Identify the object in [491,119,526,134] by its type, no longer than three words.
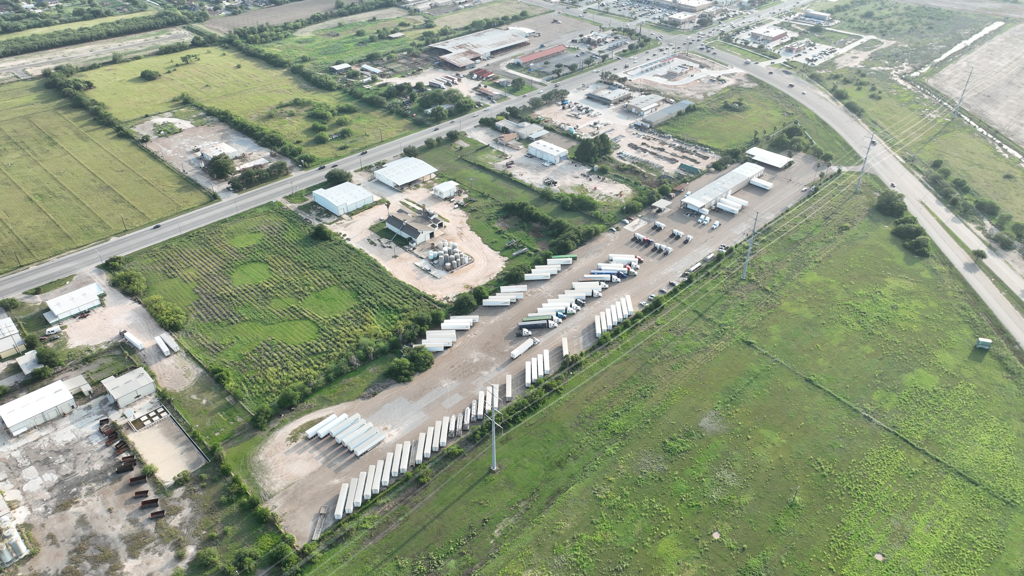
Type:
building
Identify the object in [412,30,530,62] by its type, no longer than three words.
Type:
barn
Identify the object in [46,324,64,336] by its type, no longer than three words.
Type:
vehicle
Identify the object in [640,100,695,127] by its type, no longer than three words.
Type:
shed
